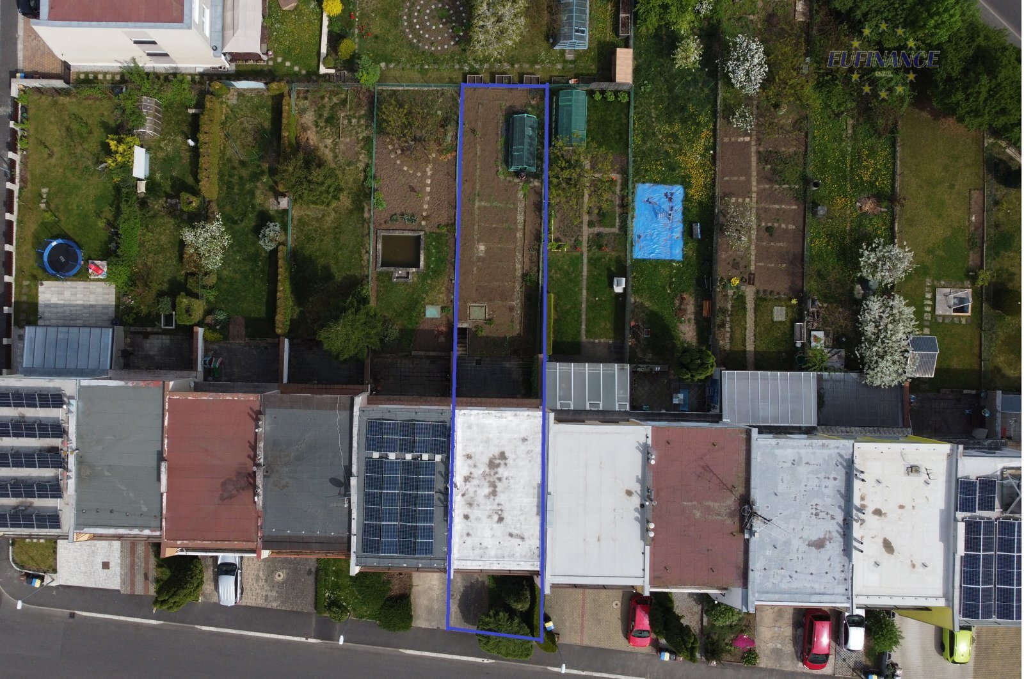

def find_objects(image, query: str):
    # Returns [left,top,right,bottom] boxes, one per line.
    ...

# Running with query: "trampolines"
[32,235,87,283]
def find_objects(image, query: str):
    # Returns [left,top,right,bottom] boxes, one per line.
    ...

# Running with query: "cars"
[796,610,833,666]
[215,557,244,606]
[933,624,971,664]
[16,0,40,28]
[835,610,867,652]
[624,590,654,644]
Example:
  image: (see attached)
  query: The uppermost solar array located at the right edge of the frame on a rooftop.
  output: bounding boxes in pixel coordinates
[958,478,997,512]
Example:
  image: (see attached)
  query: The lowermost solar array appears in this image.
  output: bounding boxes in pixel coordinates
[958,519,1024,621]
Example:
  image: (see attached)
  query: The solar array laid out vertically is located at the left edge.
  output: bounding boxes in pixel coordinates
[0,390,68,529]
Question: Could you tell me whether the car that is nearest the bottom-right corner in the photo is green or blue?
green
